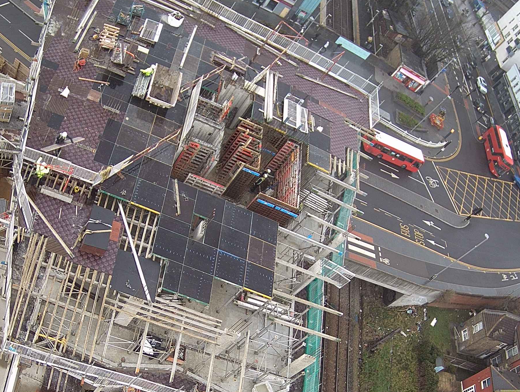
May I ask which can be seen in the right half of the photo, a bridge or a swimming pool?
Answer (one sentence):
Looking in the right half of the photo, you will find a bridge.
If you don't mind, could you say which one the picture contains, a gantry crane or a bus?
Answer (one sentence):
It is a bus that can be seen here.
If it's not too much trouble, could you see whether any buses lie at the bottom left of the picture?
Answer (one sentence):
No, I can find no bus at the bottom left of the picture.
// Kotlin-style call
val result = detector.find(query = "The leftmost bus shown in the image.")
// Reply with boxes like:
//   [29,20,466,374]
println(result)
[364,134,428,172]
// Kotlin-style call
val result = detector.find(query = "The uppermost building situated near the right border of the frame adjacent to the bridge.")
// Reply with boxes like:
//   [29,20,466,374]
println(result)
[455,309,520,379]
